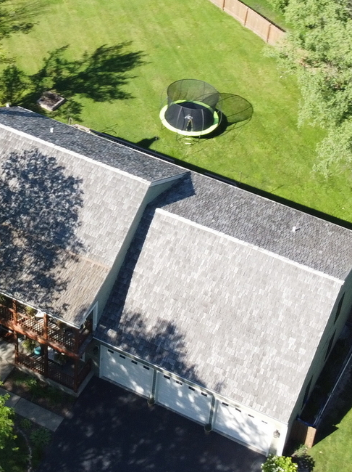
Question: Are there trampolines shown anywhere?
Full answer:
Yes, the photo shows a trampoline.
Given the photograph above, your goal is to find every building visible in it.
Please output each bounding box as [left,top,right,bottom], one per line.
[0,108,352,458]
